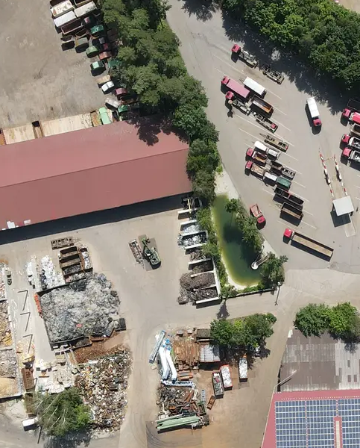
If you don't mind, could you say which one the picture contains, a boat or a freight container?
freight container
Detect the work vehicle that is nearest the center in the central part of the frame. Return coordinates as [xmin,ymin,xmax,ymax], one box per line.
[143,237,161,264]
